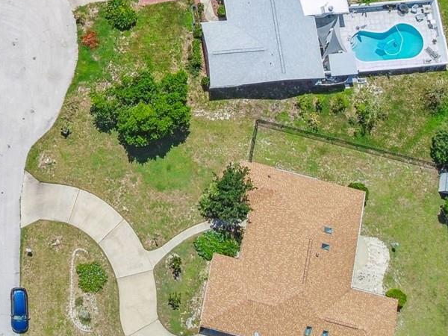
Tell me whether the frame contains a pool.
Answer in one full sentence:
Yes, there's a pool down there.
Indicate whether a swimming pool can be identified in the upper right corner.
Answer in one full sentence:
Yes, I can see a swimming pool in the upper right corner.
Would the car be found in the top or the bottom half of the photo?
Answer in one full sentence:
It is in the bottom half that the car appears.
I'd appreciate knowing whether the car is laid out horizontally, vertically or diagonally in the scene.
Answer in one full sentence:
Seen from above, the car lies vertically.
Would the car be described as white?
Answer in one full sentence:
No, the car is blue.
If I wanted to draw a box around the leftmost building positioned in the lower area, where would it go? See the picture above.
[200,163,398,336]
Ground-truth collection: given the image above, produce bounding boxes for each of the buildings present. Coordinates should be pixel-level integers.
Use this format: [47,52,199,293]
[200,163,398,336]
[202,0,324,89]
[428,174,448,192]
